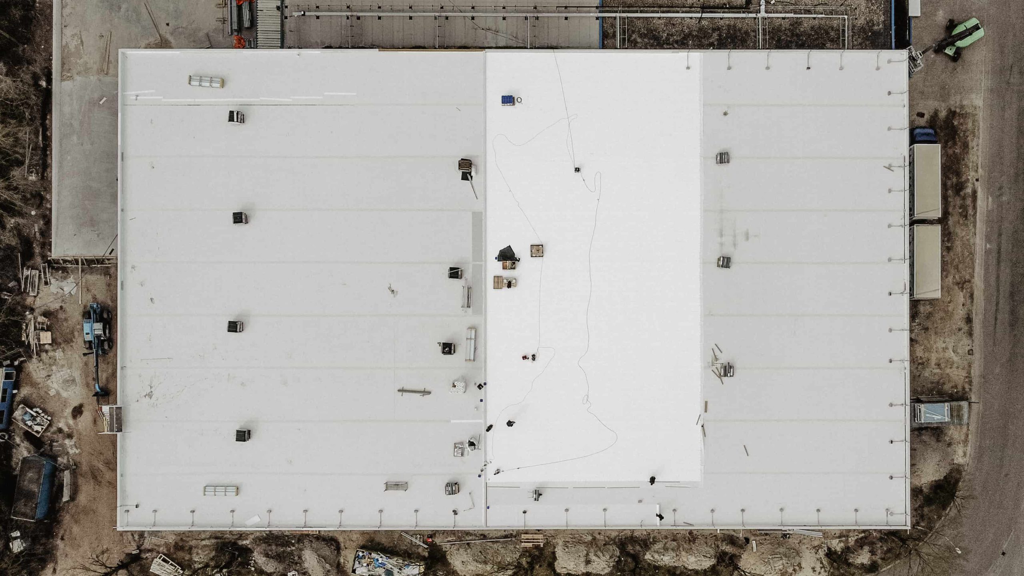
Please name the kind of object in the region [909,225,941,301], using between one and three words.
trailer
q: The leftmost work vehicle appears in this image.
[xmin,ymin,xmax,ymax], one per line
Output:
[80,302,114,405]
